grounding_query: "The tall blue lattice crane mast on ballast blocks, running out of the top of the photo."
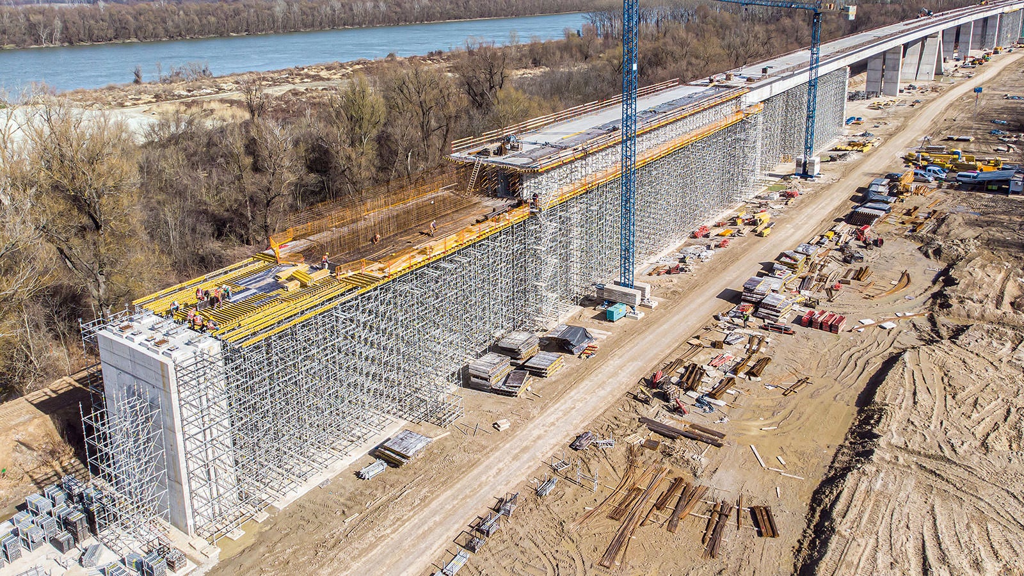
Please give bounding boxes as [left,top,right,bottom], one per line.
[591,0,660,317]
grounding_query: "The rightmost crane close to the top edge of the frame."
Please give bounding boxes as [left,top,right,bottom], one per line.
[710,0,859,178]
